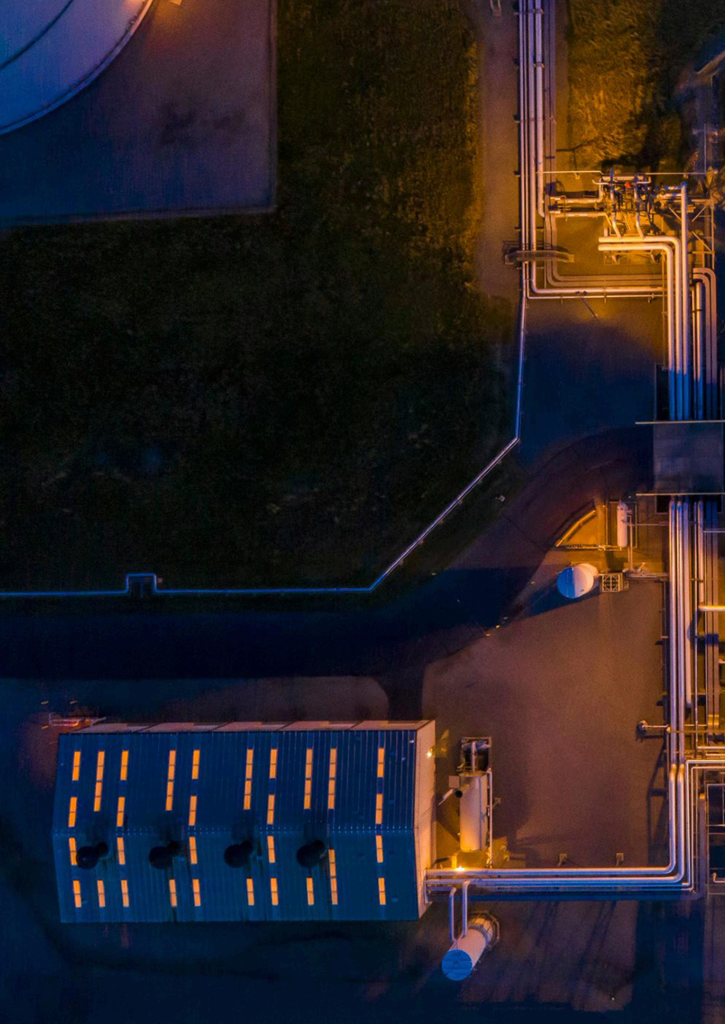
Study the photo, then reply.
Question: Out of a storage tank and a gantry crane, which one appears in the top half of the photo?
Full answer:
What appears in the top half of the photo is a storage tank.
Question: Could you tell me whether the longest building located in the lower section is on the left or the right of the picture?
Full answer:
The longest building located in the lower section appears in the left half of the scene.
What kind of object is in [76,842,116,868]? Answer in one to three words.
chimney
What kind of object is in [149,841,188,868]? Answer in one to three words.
chimney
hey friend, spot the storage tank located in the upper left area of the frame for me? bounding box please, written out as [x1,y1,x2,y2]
[0,0,157,138]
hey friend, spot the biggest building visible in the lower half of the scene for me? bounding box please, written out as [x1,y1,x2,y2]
[48,721,435,924]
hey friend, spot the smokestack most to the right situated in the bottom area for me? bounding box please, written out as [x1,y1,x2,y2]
[297,841,333,867]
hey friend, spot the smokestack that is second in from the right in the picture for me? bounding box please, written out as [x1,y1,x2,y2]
[224,840,260,867]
